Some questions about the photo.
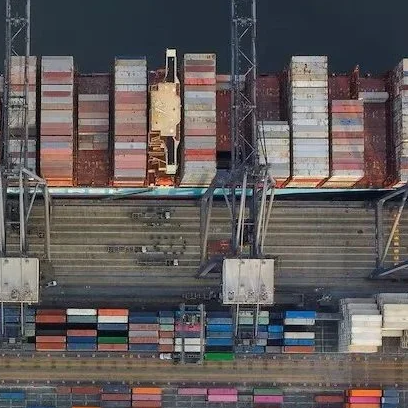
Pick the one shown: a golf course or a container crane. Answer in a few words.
container crane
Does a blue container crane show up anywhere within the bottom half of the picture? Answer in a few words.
No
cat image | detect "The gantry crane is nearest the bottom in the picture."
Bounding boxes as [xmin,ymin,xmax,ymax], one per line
[169,304,205,363]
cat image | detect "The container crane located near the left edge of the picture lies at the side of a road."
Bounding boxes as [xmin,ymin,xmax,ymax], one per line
[0,0,59,340]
